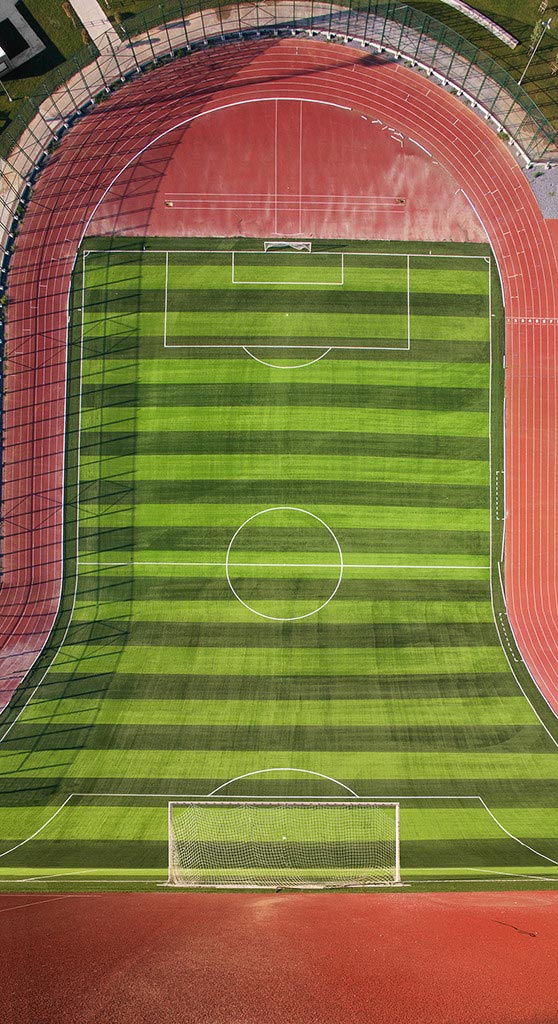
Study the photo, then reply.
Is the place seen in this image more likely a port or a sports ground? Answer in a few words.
sports ground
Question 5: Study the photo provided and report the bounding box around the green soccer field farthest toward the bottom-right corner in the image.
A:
[0,236,558,893]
